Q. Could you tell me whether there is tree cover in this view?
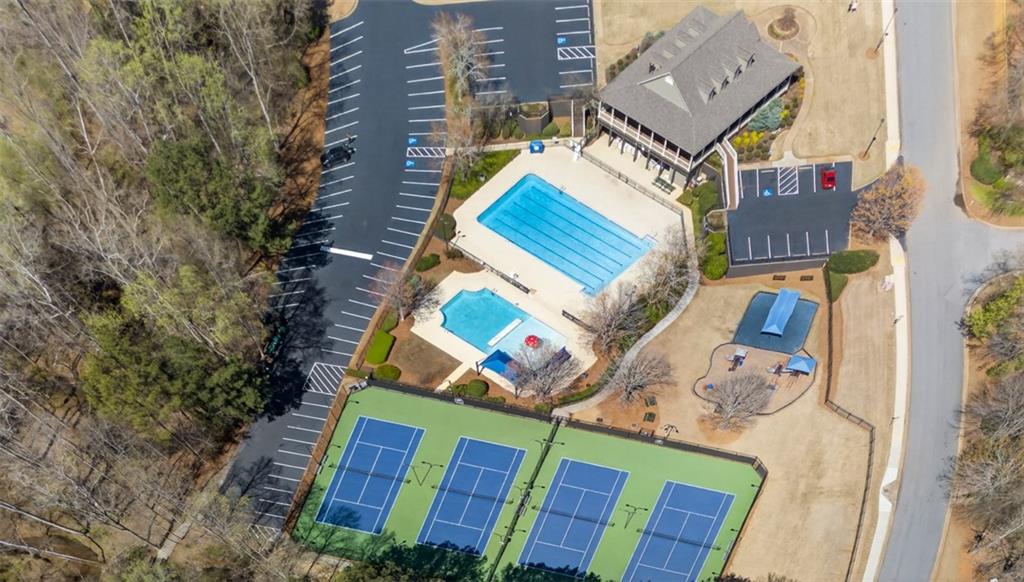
Yes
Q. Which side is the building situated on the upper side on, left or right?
right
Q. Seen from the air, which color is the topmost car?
black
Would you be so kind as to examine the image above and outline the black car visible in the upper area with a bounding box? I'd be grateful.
[321,141,351,167]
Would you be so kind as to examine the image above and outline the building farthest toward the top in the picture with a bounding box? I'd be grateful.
[600,5,802,172]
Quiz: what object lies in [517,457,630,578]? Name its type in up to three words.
tennis court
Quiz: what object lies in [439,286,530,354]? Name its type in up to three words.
swimming pool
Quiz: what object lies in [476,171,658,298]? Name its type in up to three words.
swimming pool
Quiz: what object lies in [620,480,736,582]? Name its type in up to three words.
tennis court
